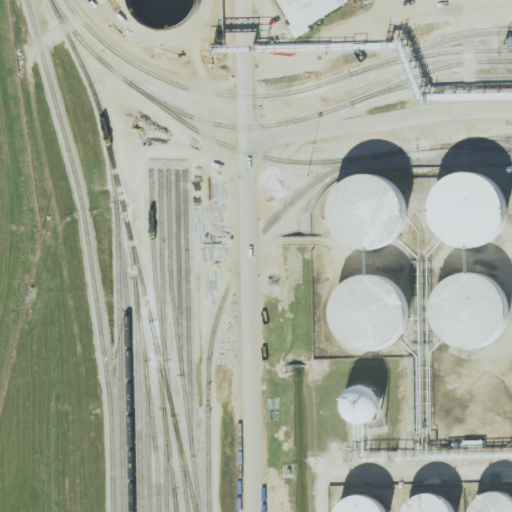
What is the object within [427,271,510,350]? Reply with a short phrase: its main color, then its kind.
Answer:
white storage tank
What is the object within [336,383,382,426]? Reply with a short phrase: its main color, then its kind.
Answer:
white storage tank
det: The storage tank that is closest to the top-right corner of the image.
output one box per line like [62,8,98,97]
[426,170,508,250]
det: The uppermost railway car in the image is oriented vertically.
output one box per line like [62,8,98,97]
[99,111,112,147]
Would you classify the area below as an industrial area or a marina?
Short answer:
industrial area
